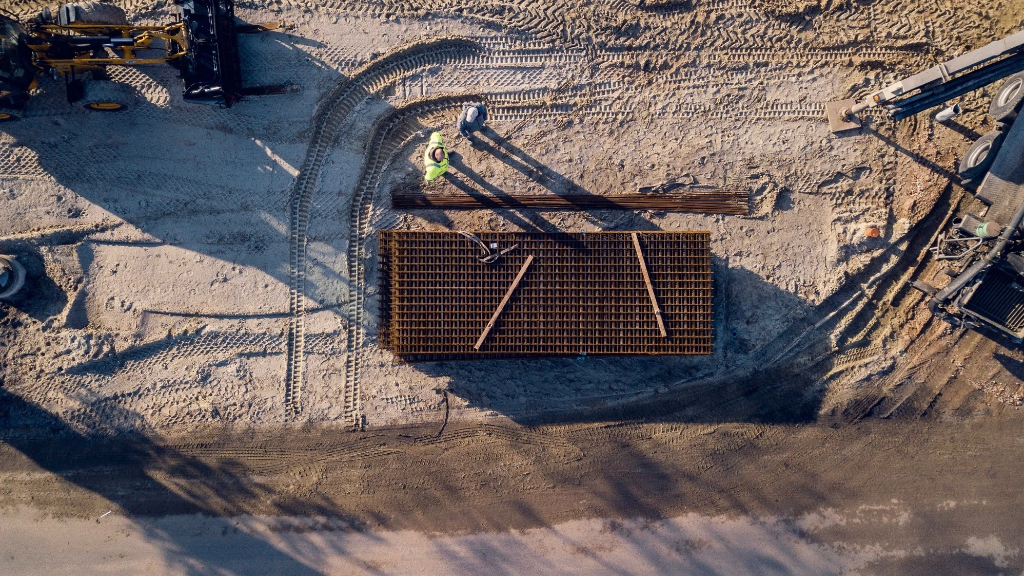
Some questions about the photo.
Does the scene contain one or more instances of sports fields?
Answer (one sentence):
No, the photo shows no sports field.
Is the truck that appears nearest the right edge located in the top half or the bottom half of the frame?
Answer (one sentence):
Seen from above, the truck that appears nearest the right edge lies in the top half of the view.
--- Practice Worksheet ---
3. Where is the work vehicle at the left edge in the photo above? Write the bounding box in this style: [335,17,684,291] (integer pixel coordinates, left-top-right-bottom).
[0,2,185,122]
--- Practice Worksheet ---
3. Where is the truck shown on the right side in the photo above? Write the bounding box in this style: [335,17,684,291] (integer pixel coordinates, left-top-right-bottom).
[826,27,1024,349]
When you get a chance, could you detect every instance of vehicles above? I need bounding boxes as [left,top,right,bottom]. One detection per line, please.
[826,27,1024,349]
[0,2,185,122]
